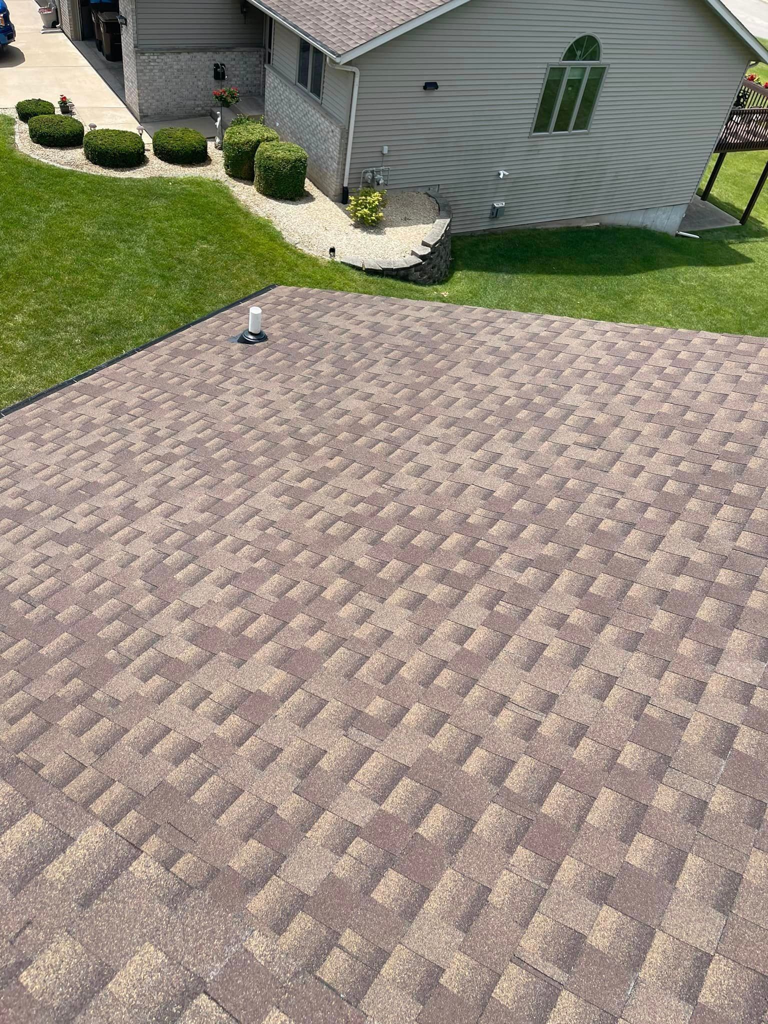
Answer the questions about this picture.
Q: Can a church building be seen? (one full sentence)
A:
No, no church building is visible in the scene.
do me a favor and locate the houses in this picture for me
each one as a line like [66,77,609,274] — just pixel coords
[0,282,768,1024]
[35,0,768,236]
